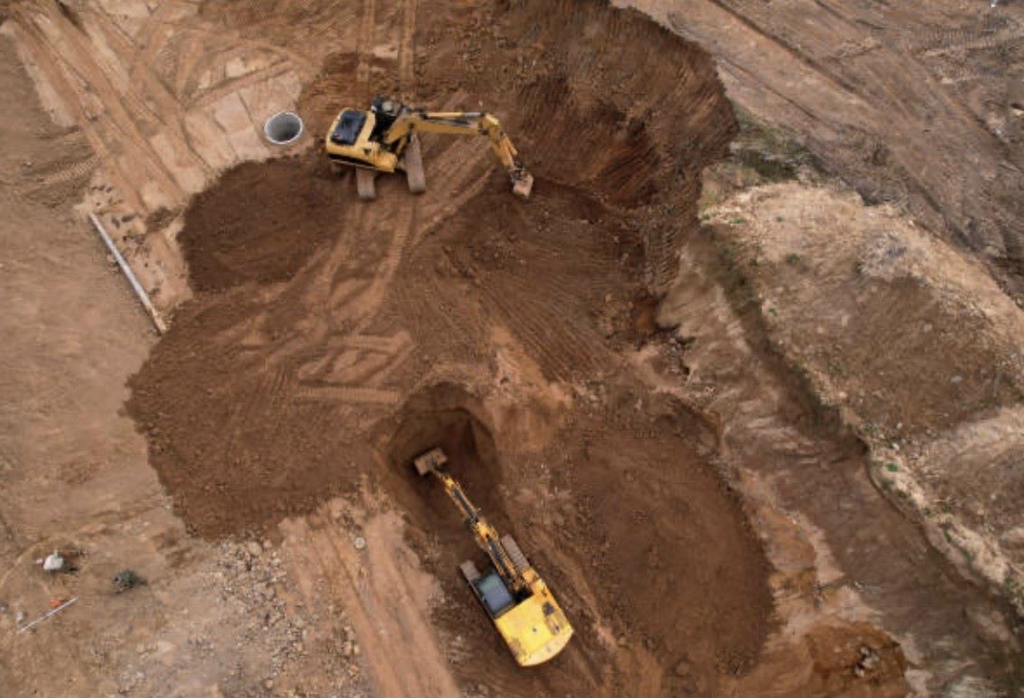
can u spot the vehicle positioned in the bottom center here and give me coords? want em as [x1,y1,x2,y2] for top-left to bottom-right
[418,454,578,668]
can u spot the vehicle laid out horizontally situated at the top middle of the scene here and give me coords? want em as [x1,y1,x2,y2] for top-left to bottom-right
[324,101,535,202]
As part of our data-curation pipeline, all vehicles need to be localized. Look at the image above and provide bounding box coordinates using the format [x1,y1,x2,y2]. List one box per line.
[418,454,578,668]
[324,101,535,202]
